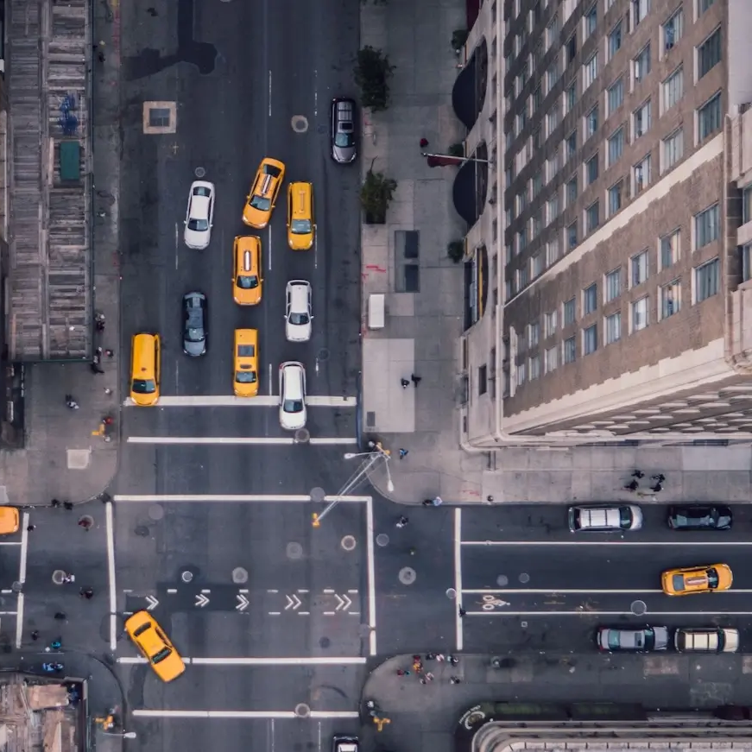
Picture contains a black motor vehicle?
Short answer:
Yes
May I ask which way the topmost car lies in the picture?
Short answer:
up and down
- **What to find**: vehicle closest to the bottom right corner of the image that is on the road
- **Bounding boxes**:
[670,624,739,656]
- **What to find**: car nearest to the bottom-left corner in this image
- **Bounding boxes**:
[129,609,182,681]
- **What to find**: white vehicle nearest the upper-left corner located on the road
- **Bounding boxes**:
[182,180,216,252]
